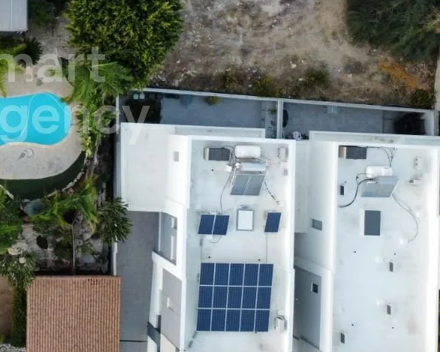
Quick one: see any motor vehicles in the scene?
No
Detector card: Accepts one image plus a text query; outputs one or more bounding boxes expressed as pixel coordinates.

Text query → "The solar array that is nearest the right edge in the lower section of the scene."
[264,211,282,232]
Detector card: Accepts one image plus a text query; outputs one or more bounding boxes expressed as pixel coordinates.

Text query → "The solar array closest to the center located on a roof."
[197,214,229,235]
